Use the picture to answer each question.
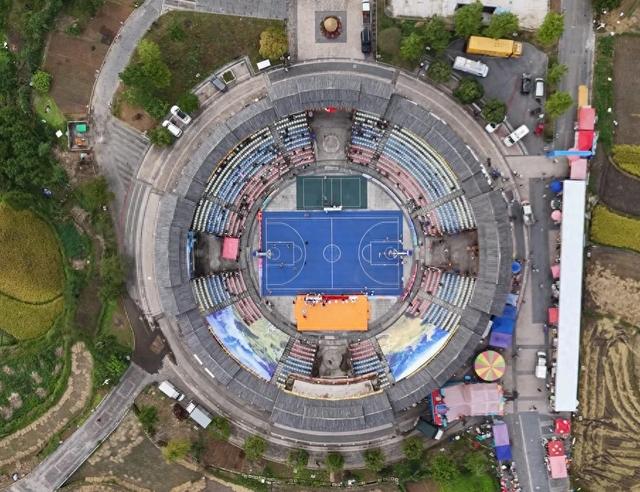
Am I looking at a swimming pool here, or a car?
car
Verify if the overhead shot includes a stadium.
Yes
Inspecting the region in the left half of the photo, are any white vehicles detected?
Yes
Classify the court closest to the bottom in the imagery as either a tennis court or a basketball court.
basketball court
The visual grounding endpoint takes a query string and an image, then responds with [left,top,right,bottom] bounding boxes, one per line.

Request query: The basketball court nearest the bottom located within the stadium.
[261,211,403,298]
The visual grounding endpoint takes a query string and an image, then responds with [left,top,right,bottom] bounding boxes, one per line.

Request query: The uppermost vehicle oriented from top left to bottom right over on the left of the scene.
[211,75,231,96]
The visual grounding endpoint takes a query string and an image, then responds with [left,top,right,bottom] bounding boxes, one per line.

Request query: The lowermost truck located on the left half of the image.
[186,399,216,430]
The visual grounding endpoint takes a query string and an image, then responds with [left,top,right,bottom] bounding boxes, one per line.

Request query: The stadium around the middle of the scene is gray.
[154,73,513,434]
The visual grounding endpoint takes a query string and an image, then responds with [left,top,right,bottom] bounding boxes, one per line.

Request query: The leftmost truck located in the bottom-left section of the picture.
[155,376,189,403]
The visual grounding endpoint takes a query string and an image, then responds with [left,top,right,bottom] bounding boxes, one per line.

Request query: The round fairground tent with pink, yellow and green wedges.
[469,346,506,381]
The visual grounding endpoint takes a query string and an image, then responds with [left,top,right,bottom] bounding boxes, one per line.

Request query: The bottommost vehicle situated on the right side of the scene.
[412,414,442,441]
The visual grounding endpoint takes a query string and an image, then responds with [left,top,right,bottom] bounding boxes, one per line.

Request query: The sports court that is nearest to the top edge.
[298,176,368,209]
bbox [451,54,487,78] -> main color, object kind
white vehicle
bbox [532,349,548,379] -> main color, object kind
white vehicle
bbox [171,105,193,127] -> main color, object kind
white car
